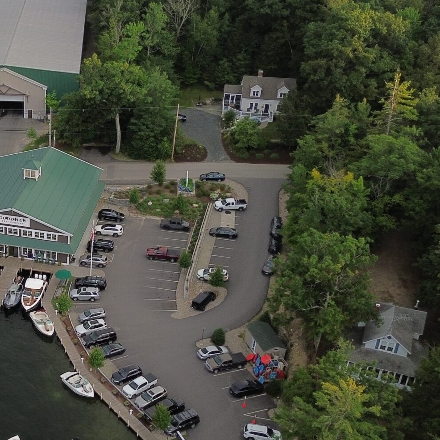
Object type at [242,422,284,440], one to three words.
car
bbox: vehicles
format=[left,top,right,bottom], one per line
[118,372,162,400]
[162,409,204,438]
[209,228,239,239]
[261,255,279,276]
[85,237,116,251]
[74,316,108,336]
[74,274,107,290]
[80,326,118,350]
[159,218,193,232]
[190,291,219,309]
[199,173,226,182]
[75,305,109,323]
[213,198,248,211]
[197,267,229,281]
[194,344,231,361]
[108,362,145,385]
[145,246,181,261]
[132,385,170,410]
[227,381,265,399]
[95,343,131,362]
[203,352,249,373]
[69,286,101,302]
[242,422,284,440]
[79,254,108,268]
[267,232,281,254]
[97,209,125,222]
[95,223,123,237]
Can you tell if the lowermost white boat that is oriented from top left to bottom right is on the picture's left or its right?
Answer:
left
